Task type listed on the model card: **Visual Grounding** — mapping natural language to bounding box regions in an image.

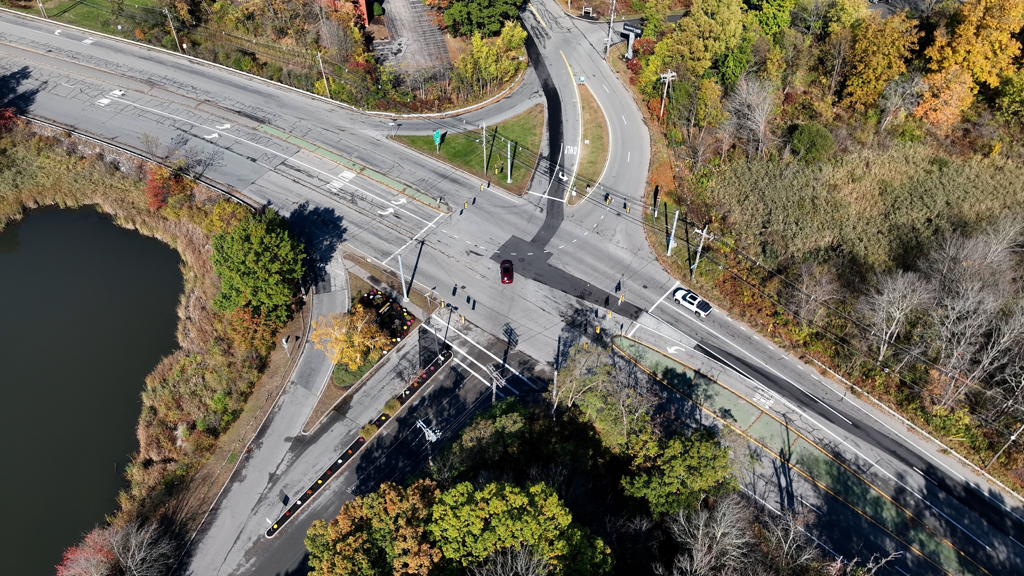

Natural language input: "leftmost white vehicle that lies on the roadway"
[674,291,713,319]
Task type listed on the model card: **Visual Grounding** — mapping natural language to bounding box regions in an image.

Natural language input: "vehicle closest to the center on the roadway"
[500,262,514,284]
